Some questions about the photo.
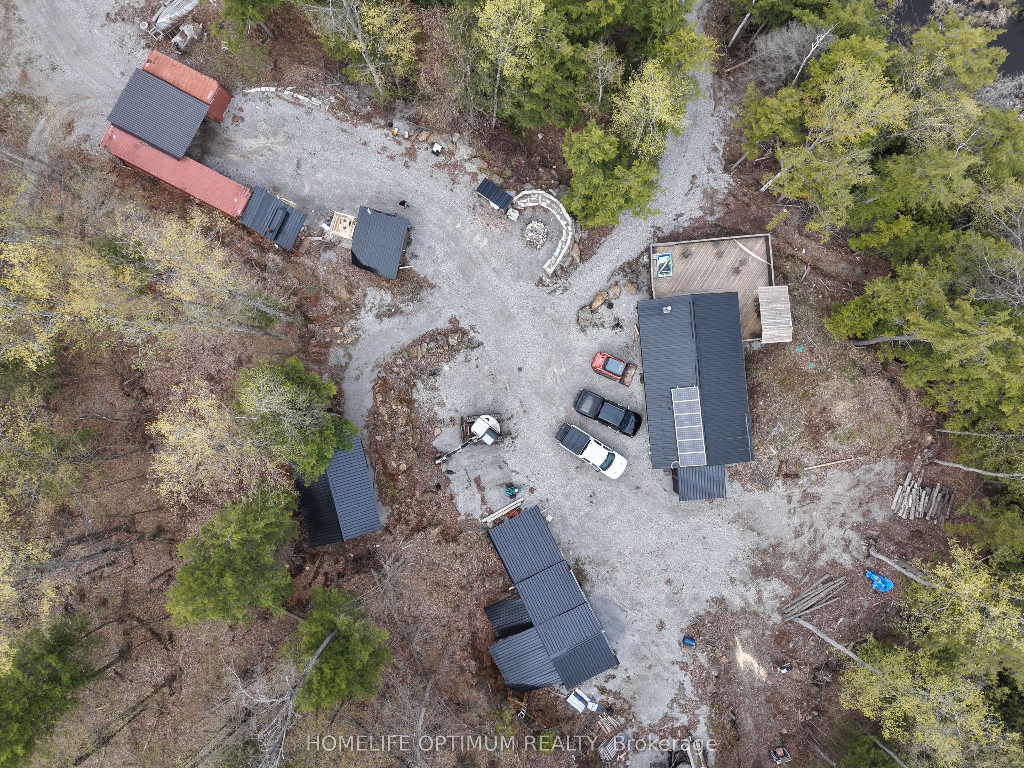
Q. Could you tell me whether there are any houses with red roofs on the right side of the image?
No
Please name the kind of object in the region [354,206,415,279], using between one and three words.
shed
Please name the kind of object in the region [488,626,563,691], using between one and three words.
shed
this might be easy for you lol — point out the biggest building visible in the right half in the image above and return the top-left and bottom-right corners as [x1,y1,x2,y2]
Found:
[635,292,754,470]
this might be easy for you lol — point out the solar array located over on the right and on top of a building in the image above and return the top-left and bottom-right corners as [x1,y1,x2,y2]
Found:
[671,385,707,468]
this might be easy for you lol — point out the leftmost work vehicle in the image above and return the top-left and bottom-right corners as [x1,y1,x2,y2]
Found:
[436,417,500,462]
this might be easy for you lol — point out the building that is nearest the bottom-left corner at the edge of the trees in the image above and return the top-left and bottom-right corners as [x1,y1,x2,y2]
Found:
[289,437,382,547]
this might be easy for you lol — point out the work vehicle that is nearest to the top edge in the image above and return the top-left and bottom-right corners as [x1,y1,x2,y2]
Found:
[594,354,641,393]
